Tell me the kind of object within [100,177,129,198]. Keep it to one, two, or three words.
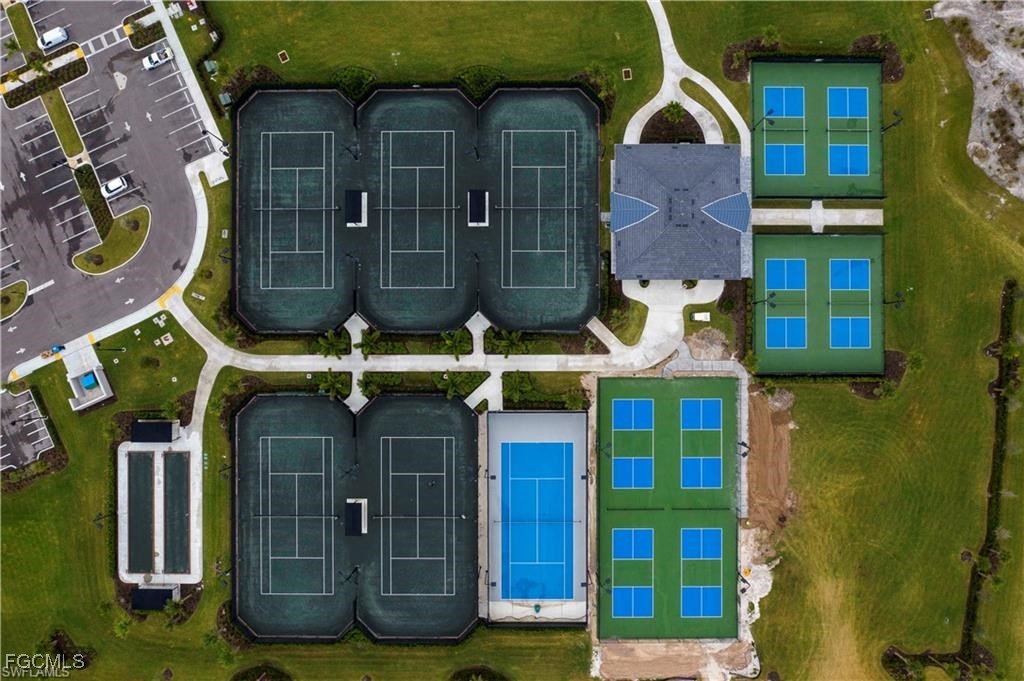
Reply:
car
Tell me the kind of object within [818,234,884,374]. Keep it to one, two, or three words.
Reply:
sports court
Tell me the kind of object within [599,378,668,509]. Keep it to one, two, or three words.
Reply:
sports court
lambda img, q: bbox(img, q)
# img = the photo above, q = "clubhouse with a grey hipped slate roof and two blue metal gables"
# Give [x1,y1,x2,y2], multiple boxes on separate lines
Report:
[608,144,750,279]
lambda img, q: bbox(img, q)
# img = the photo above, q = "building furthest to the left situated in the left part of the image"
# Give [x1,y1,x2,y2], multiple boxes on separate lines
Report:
[64,364,116,412]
